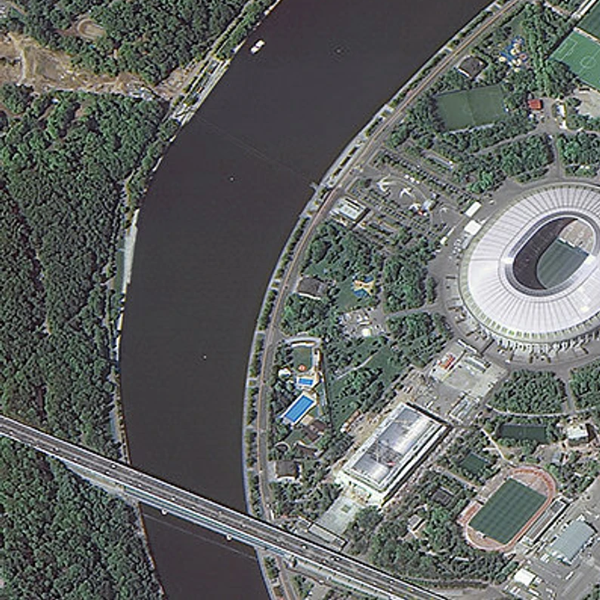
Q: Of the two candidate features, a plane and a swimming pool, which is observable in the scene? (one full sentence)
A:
The one in the frame is a swimming pool.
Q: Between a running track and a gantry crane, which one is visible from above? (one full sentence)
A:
The one in the frame is a running track.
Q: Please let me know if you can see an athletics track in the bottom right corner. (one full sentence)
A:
Yes, I can see an athletics track in the bottom right corner.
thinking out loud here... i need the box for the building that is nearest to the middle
[296,278,326,299]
